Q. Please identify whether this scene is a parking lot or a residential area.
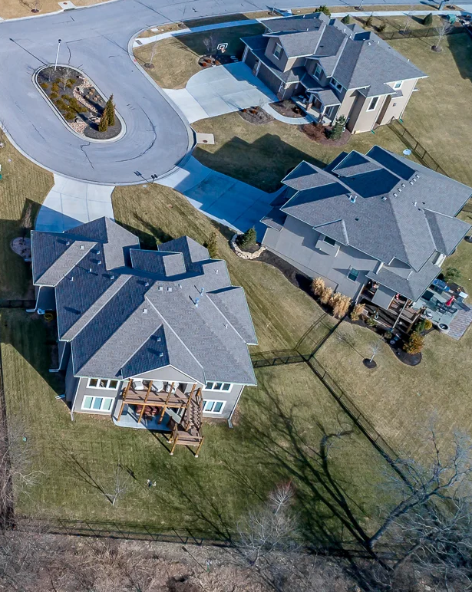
residential area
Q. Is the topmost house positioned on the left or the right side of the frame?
right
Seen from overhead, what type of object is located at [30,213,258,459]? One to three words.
house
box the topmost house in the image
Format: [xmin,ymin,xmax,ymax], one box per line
[237,7,426,134]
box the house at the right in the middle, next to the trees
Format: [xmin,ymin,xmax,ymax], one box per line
[256,139,472,360]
